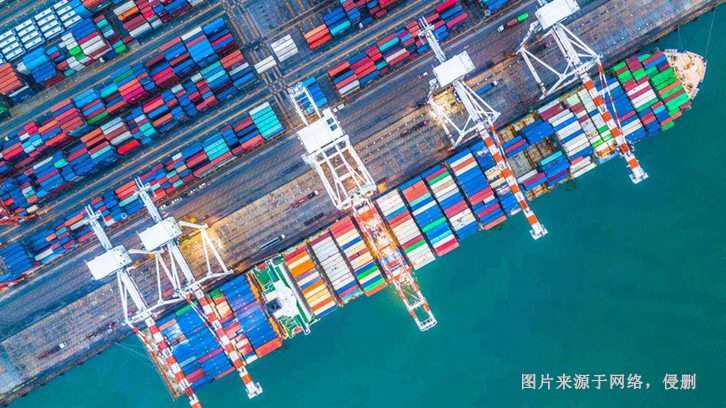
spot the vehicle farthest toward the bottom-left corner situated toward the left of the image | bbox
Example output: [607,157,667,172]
[41,341,67,358]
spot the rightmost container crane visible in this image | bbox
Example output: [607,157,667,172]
[507,0,647,184]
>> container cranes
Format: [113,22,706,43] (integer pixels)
[131,174,262,397]
[418,15,548,238]
[286,79,439,335]
[507,0,647,184]
[79,202,201,408]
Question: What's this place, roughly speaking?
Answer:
port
